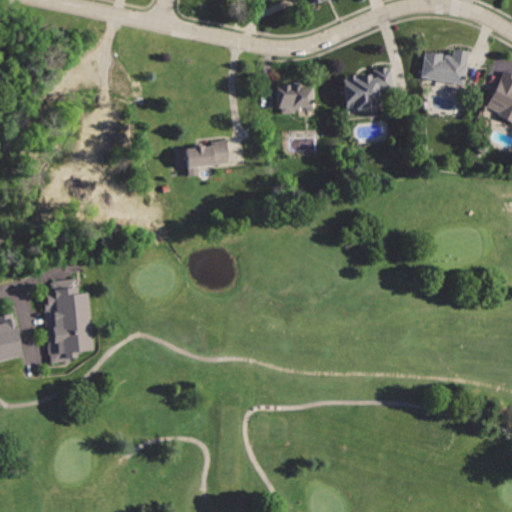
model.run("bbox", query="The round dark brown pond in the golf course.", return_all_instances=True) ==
[188,248,236,289]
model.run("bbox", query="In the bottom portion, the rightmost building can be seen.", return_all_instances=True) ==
[44,281,92,364]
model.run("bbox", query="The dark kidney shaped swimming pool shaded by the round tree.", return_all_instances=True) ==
[424,82,464,116]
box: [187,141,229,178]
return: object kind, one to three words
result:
house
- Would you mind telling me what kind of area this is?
golf course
